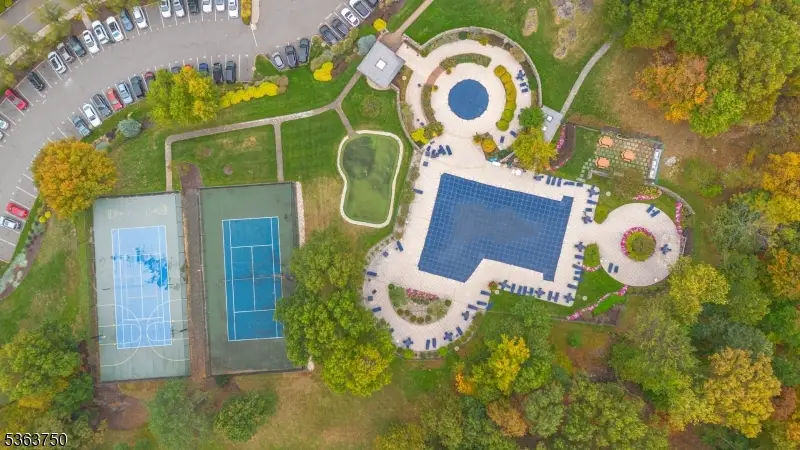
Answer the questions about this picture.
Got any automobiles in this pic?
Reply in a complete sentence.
Yes, the frame does contain an automobile.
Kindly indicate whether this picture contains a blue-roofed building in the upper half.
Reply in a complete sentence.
No, there is no blue-roofed building in the upper half.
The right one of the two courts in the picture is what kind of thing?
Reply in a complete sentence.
The right one of the two courts appears to be a tennis court.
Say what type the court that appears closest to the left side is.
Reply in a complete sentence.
I'd identify the court that appears closest to the left side as a tennis court.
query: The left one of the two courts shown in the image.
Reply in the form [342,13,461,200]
[94,193,189,382]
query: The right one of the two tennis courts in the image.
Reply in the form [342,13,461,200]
[204,182,302,375]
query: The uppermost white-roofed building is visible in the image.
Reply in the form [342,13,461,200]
[357,39,405,91]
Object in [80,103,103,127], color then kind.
white car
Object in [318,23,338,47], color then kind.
gray car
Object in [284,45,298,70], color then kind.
gray car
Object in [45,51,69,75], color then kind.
white car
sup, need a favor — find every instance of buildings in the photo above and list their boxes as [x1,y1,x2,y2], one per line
[357,39,405,91]
[527,105,561,141]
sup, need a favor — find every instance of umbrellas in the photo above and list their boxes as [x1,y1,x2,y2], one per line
[601,135,613,148]
[623,149,635,162]
[597,156,609,169]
